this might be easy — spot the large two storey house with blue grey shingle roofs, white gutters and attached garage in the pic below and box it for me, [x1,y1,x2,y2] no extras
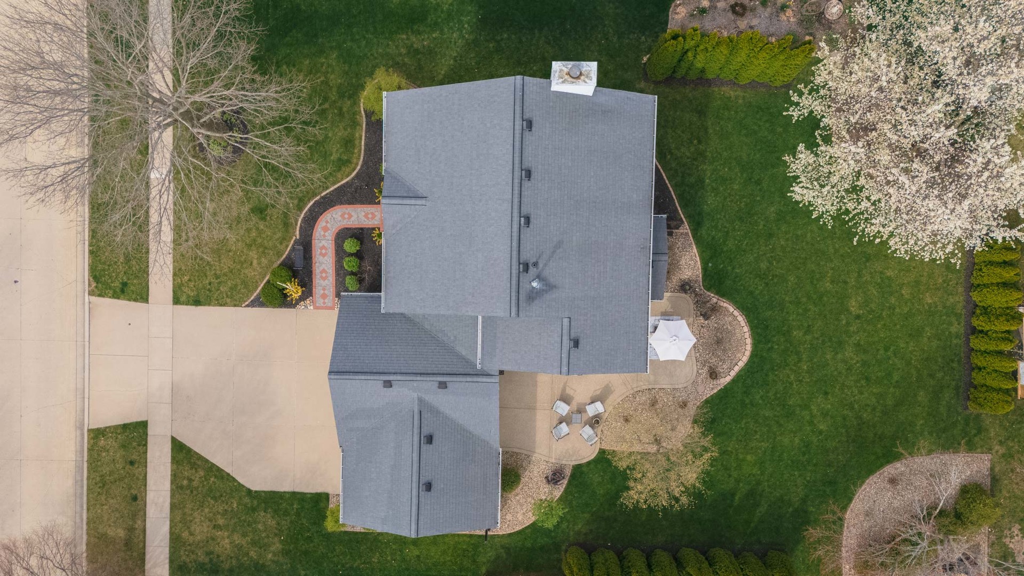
[328,61,668,538]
